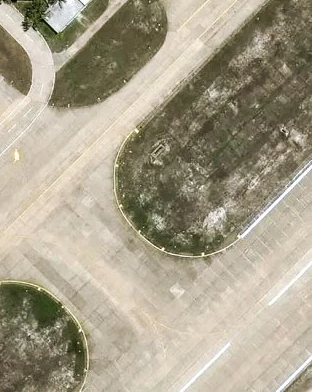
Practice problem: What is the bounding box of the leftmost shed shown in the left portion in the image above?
[41,0,85,32]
